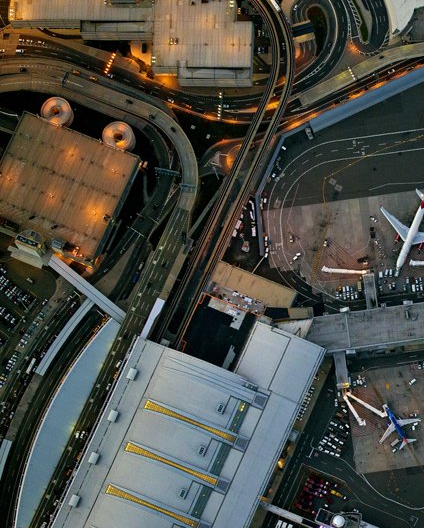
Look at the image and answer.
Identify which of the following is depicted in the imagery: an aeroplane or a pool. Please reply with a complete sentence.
Visible in the photo is an aeroplane.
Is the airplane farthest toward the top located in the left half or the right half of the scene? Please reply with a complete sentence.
The airplane farthest toward the top sits on the right side.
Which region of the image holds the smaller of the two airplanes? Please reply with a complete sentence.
The smaller of the two airplanes appears toward the bottom right of the photo.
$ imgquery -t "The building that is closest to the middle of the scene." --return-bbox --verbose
[210,261,298,308]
